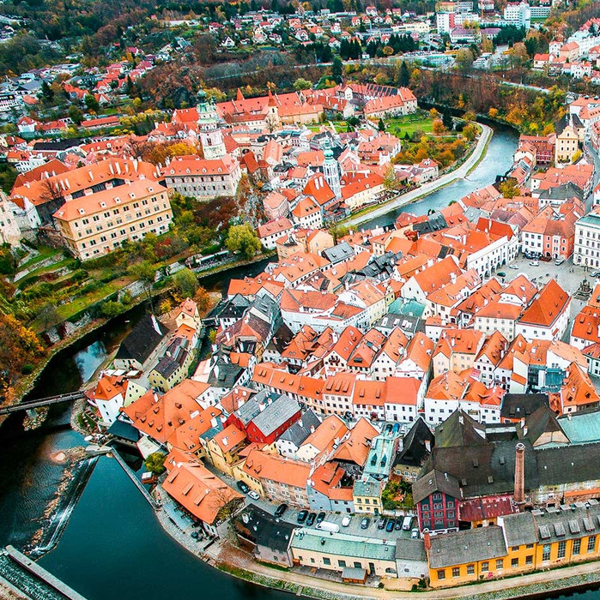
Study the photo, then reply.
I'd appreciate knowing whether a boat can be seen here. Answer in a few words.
No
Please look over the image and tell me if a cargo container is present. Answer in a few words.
No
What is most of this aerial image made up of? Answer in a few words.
buildings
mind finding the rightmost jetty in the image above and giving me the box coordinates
[85,445,116,461]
